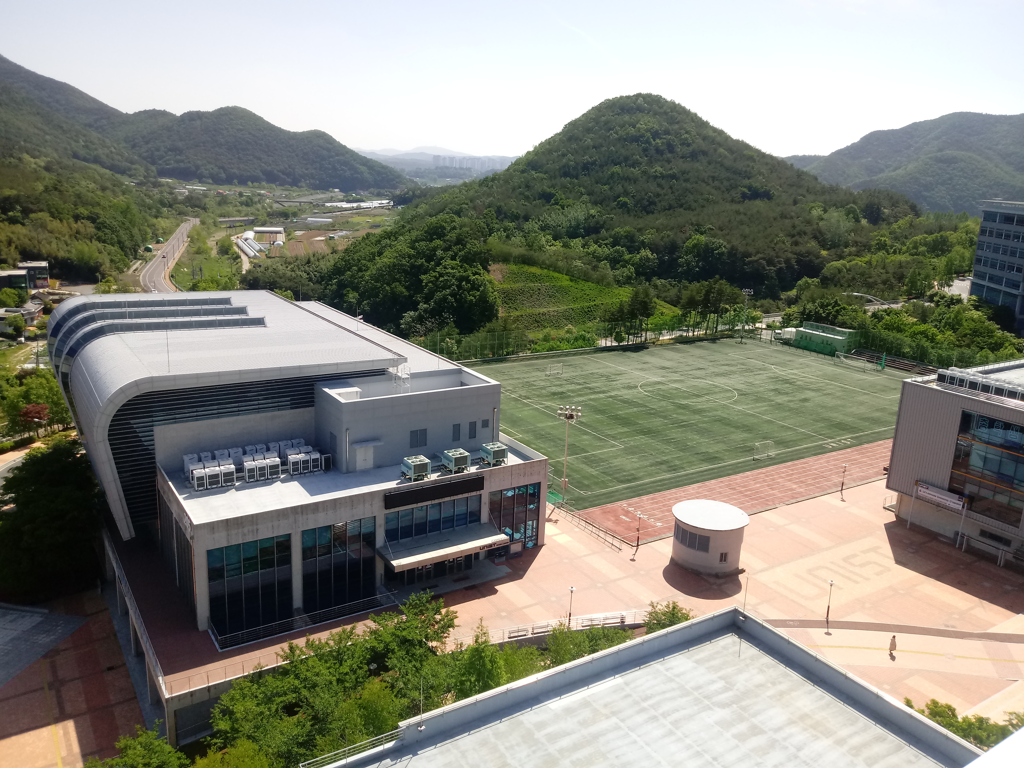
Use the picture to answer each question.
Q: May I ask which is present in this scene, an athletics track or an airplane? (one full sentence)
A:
There is an athletics track in the scene.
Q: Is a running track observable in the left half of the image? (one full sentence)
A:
No, no running track can be made out in the left half of the image.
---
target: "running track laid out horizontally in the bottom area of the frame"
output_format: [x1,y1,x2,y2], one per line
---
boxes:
[569,436,892,546]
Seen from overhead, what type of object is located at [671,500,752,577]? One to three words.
building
